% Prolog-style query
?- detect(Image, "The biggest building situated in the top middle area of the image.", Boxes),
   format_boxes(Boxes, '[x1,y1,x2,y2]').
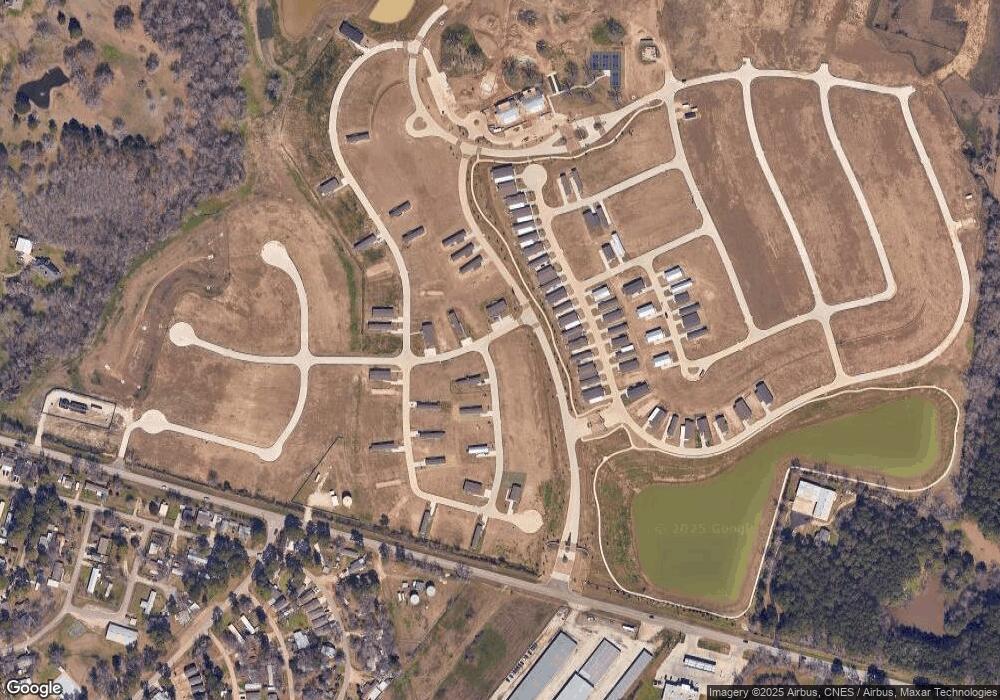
[496,94,550,131]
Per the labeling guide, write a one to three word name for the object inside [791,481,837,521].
building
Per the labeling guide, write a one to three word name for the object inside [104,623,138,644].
house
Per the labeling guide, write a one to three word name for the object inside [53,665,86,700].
house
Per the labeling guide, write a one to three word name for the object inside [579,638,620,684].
building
